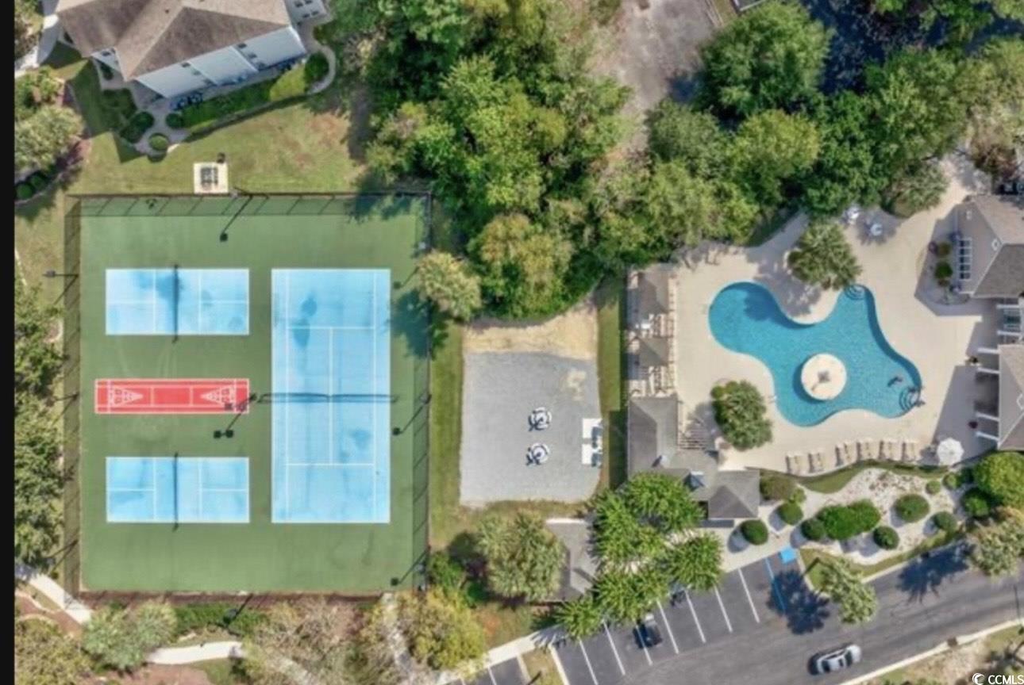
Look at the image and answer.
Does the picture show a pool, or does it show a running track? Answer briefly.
pool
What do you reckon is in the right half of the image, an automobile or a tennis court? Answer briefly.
automobile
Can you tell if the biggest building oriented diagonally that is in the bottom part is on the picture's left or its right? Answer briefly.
right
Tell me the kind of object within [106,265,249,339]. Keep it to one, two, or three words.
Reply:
sports court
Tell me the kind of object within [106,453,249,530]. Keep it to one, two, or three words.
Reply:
sports court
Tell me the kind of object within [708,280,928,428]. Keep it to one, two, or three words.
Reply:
swimming pool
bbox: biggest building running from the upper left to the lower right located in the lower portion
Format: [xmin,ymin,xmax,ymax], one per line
[626,397,759,519]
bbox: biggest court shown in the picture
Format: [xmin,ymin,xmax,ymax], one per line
[79,195,429,595]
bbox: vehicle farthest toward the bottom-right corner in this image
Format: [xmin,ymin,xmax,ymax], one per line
[810,641,861,675]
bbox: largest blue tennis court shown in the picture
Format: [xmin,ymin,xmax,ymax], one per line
[257,269,399,523]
